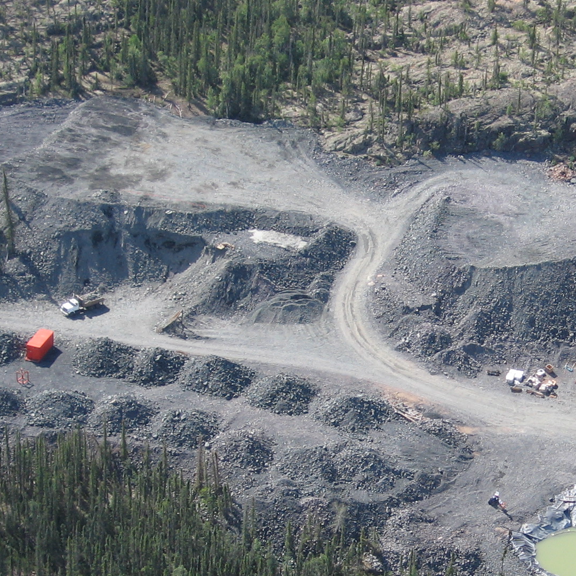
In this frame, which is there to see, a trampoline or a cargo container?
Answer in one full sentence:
I can see a cargo container in this picture.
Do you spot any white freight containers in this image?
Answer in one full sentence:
No, no white freight container is visible in the view.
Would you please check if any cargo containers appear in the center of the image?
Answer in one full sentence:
No, no cargo container appears in the center of the image.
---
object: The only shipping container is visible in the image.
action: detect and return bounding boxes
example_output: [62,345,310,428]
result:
[25,328,52,363]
